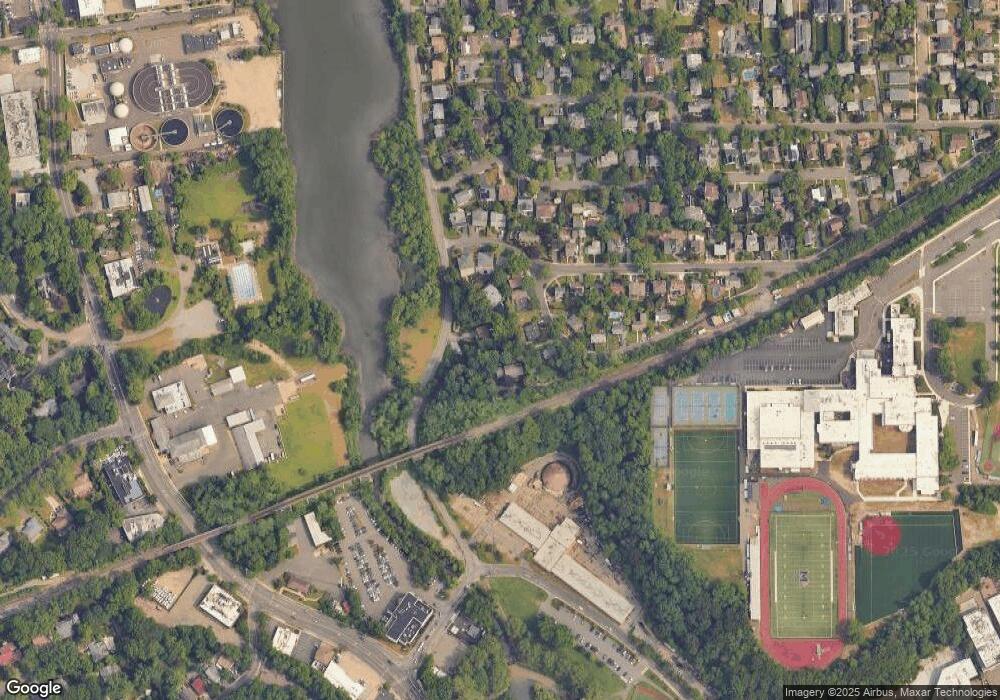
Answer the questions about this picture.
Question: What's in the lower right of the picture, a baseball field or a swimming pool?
baseball field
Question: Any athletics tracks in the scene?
Yes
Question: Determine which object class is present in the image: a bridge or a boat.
bridge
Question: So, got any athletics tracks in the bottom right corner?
Yes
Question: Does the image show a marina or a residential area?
residential area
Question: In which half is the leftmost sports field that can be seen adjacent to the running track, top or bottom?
bottom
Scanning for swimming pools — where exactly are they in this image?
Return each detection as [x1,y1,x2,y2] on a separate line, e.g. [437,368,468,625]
[742,68,758,81]
[228,263,260,307]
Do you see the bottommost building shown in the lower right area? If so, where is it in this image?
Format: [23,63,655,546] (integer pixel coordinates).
[934,658,978,700]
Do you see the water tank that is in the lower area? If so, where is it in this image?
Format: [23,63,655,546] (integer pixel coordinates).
[541,460,572,491]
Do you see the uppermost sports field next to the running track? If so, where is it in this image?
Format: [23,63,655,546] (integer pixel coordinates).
[674,430,740,545]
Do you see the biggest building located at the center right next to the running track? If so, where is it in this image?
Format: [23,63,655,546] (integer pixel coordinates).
[746,304,938,495]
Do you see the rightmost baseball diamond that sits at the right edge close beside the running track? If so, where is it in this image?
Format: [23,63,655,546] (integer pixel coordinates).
[855,509,964,620]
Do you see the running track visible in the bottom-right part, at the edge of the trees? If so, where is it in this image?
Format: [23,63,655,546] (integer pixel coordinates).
[760,477,850,669]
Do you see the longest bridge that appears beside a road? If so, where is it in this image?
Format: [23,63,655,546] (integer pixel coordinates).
[239,436,446,528]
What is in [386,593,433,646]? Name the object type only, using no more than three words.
building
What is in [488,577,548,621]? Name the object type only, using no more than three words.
sports field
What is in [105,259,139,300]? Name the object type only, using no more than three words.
building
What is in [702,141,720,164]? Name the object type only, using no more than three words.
house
